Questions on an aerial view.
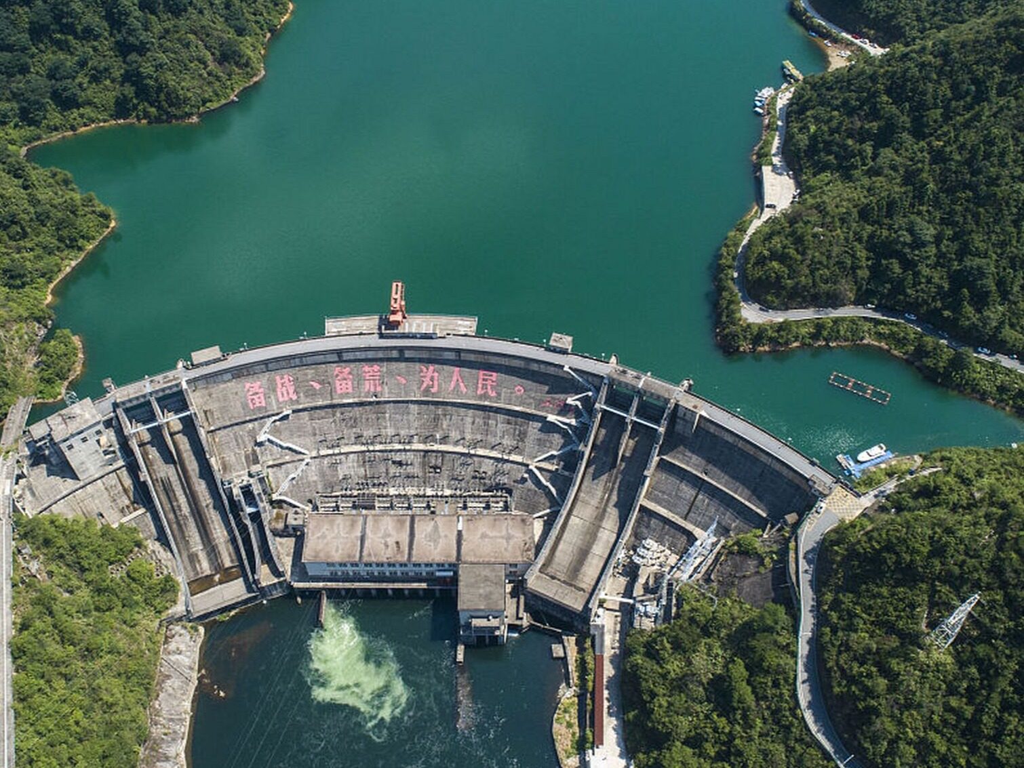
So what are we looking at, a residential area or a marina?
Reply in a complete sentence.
This looks like a marina.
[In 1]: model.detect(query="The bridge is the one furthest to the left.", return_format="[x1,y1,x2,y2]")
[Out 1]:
[0,389,39,455]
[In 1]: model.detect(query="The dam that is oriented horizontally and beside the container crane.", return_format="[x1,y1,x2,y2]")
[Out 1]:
[0,334,837,565]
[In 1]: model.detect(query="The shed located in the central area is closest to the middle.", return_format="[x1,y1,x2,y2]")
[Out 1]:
[547,332,573,357]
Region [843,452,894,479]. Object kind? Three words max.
pier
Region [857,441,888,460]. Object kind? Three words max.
boat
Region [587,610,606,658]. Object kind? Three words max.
shed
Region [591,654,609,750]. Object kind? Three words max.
building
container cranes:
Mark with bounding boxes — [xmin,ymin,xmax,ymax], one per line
[389,276,408,325]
